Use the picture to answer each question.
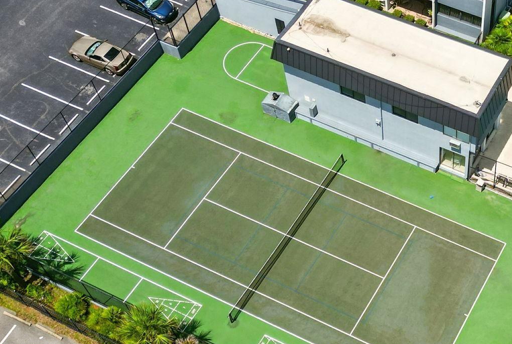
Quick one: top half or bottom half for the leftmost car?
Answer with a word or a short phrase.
top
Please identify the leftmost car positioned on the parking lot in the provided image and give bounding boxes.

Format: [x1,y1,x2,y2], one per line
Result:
[70,8,133,45]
